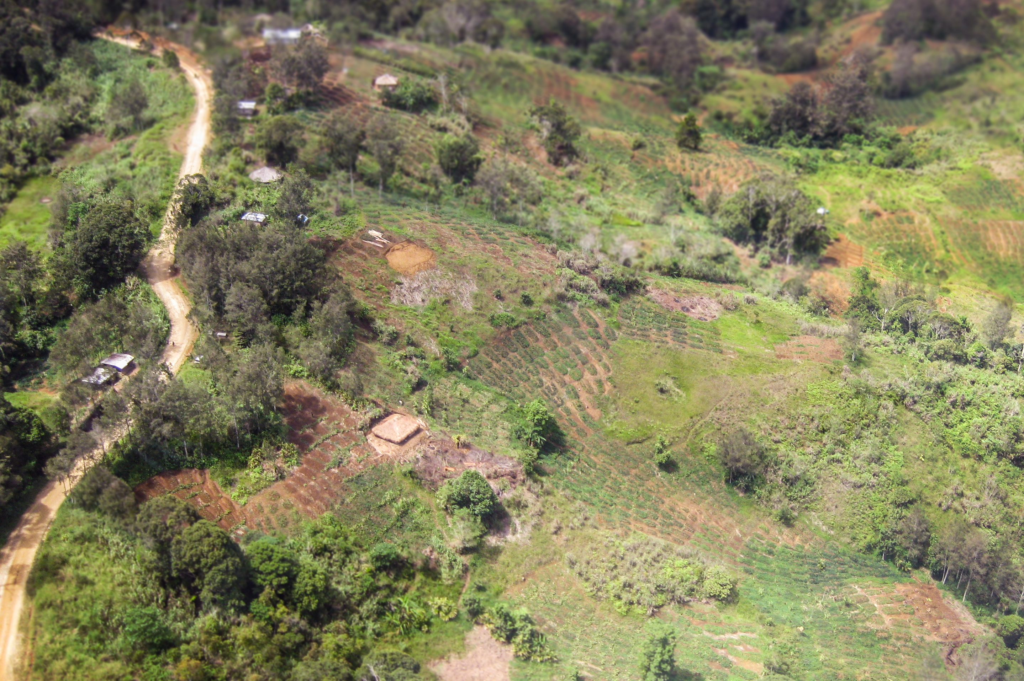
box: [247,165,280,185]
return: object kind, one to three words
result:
shed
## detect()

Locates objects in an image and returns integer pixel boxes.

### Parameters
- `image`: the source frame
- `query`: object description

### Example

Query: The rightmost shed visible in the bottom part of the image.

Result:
[371,414,422,450]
